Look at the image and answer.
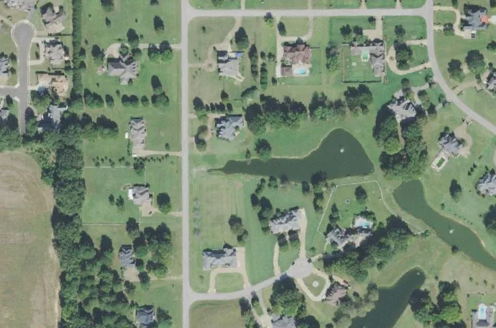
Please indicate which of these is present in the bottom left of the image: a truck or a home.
home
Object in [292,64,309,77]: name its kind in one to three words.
swimming pool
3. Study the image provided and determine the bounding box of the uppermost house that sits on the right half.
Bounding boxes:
[462,7,488,31]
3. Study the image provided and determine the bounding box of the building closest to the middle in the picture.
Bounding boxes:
[215,116,245,140]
